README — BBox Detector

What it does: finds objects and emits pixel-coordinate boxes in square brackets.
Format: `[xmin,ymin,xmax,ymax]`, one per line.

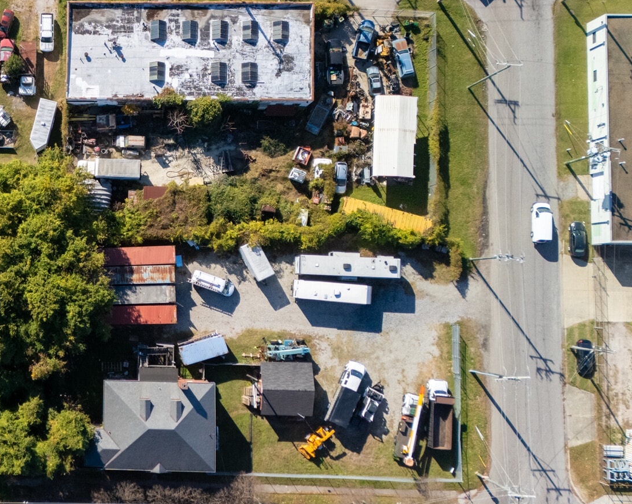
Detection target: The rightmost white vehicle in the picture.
[526,204,550,244]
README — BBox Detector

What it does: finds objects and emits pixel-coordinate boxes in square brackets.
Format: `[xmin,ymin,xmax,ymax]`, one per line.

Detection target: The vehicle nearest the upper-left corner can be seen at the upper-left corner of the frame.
[0,6,14,39]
